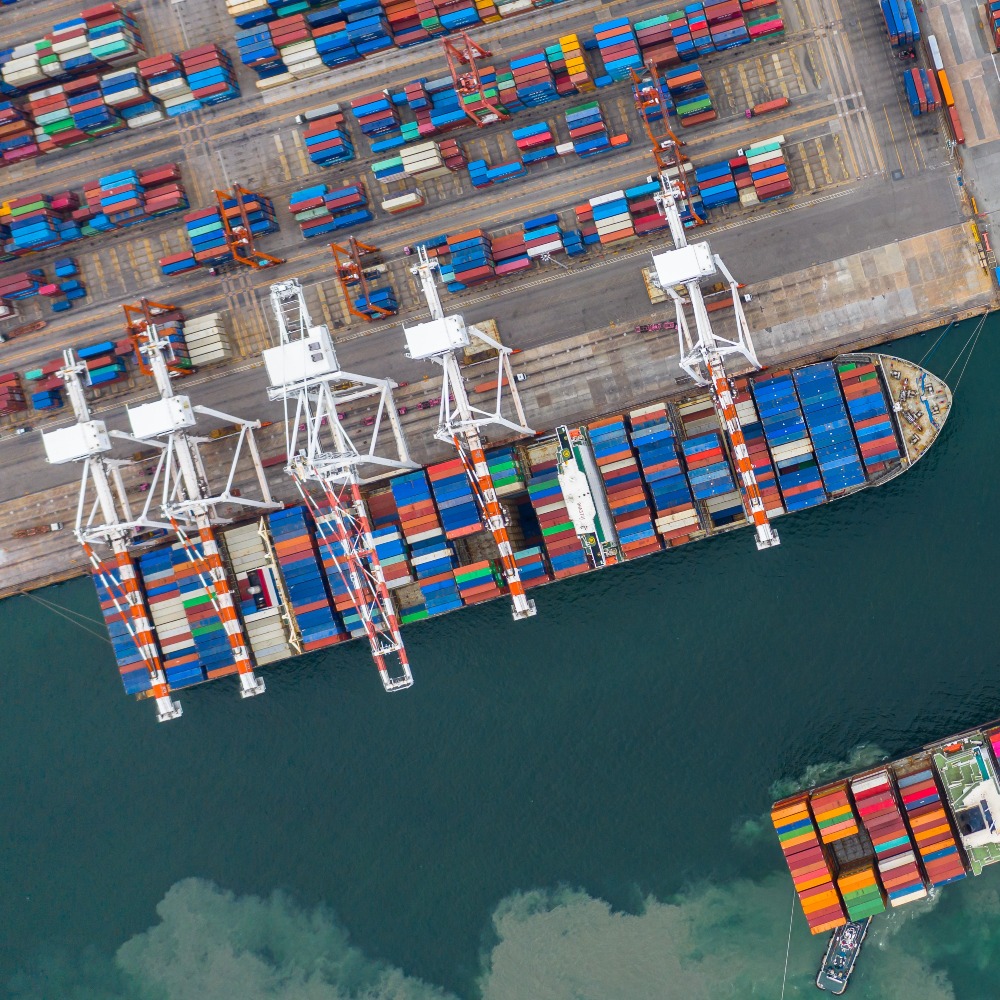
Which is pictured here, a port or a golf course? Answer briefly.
port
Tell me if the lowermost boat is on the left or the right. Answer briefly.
right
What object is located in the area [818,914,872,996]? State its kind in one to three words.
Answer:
boat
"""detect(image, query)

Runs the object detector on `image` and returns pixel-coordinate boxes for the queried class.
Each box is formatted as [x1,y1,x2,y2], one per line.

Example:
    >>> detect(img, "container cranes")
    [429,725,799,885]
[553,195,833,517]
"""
[254,279,433,693]
[125,323,298,698]
[401,245,550,619]
[625,57,688,152]
[322,233,399,321]
[112,295,185,377]
[205,180,287,270]
[646,139,709,229]
[42,348,221,722]
[650,174,778,549]
[438,30,495,122]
